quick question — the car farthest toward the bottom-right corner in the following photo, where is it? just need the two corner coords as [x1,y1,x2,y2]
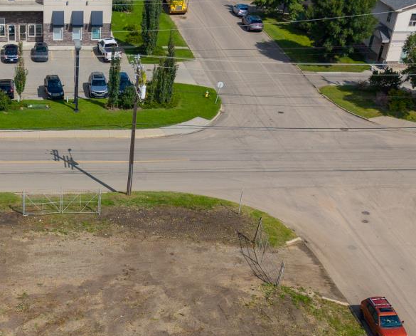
[354,296,407,336]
